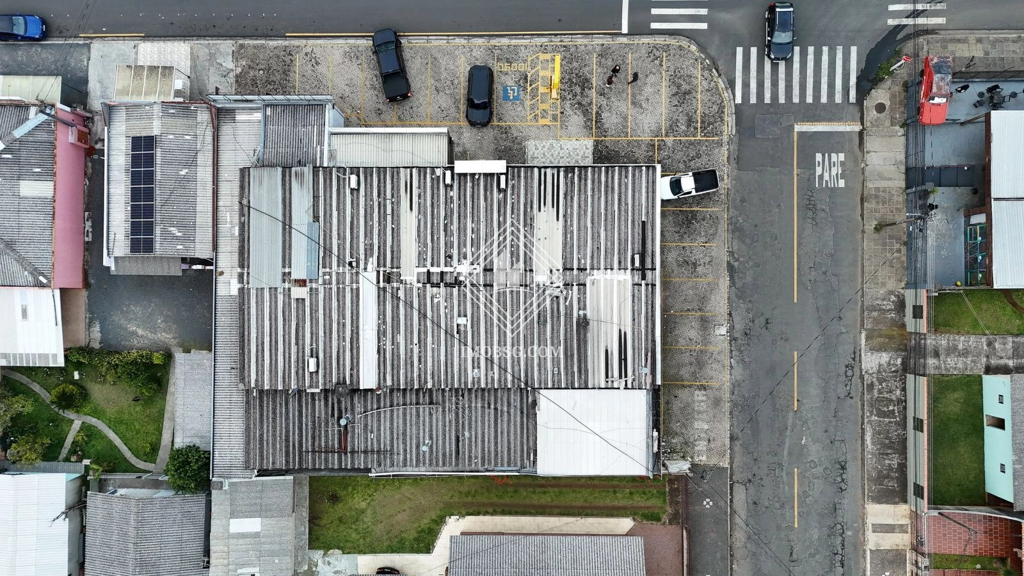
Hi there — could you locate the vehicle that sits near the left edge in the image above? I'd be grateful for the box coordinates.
[0,12,48,42]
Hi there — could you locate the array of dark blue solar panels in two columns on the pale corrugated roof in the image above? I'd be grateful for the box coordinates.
[130,136,154,254]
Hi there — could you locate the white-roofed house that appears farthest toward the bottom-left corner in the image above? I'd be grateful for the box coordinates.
[0,459,94,576]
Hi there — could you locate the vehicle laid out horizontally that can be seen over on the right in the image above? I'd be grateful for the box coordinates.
[661,169,722,201]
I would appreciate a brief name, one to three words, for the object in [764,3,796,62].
car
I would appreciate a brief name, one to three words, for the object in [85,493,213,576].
house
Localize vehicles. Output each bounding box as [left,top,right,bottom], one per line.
[465,65,495,128]
[373,30,410,104]
[377,563,401,576]
[919,58,952,123]
[764,3,796,62]
[0,12,48,42]
[661,169,722,201]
